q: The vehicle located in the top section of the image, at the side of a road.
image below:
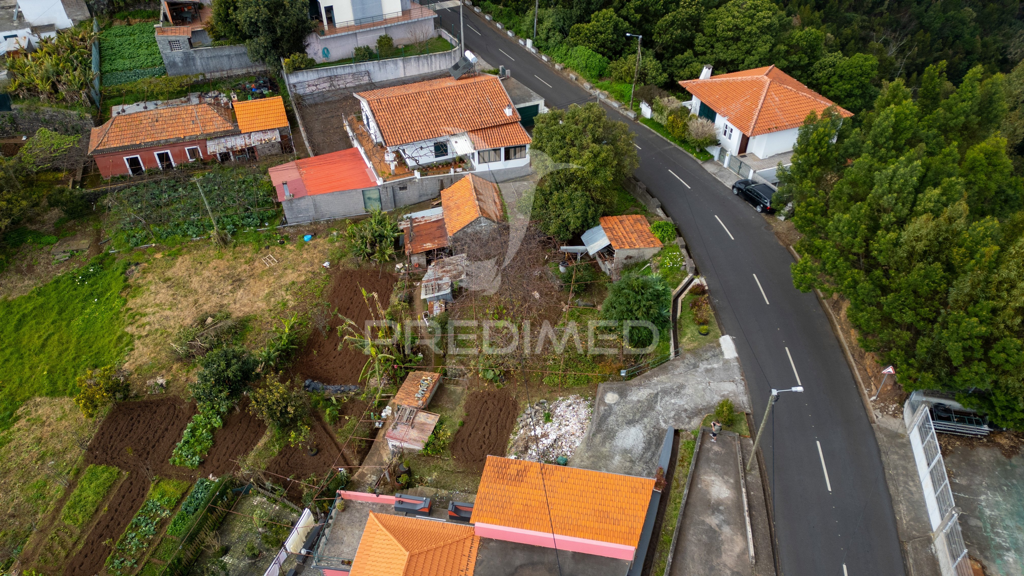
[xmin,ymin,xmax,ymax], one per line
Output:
[730,181,782,210]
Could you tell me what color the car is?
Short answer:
black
